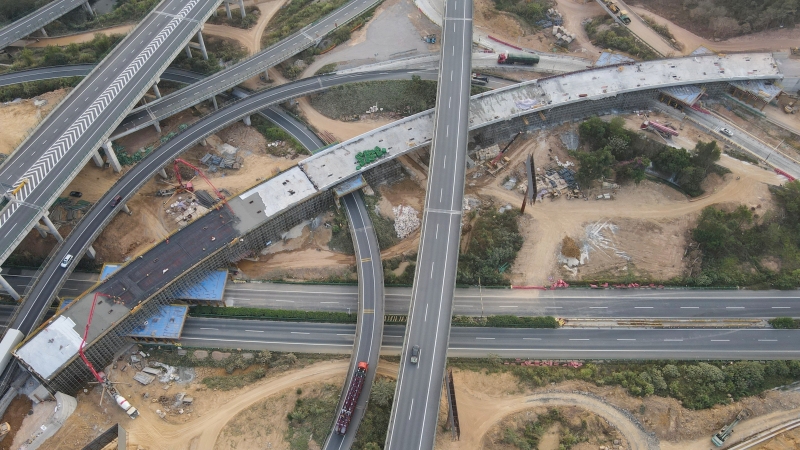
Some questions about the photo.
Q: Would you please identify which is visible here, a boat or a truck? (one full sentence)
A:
I can see a truck in this picture.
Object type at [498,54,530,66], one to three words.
vehicle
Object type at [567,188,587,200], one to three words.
vehicle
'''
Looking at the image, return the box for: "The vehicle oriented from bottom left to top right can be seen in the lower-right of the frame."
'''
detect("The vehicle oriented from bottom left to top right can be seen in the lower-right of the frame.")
[711,415,744,441]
